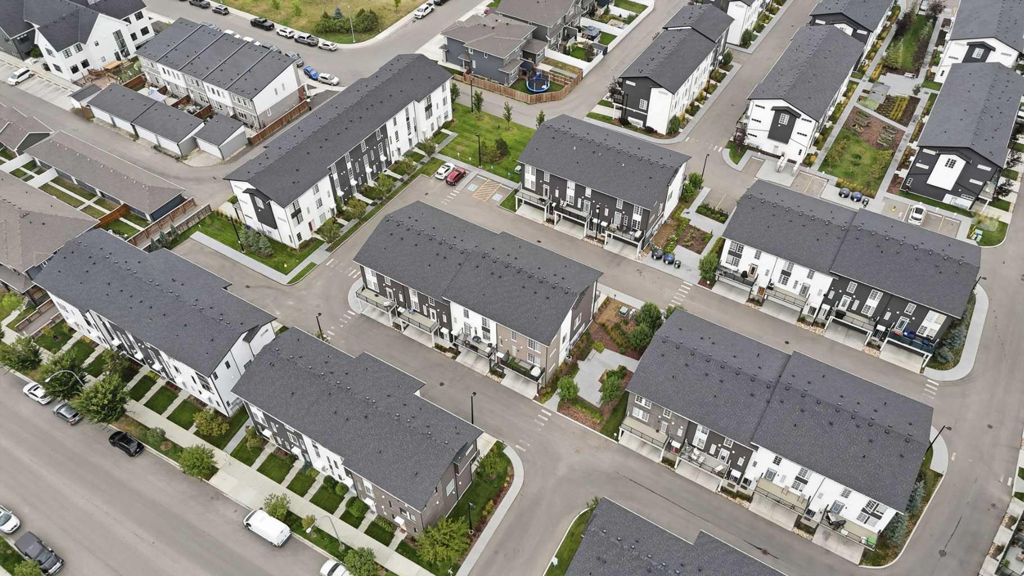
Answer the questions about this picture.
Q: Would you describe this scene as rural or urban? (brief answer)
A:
urban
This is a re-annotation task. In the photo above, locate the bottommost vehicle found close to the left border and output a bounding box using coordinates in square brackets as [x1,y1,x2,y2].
[12,536,62,574]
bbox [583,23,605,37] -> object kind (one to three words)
gazebo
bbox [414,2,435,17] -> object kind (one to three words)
vehicle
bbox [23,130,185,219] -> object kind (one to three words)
building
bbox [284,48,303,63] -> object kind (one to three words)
car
